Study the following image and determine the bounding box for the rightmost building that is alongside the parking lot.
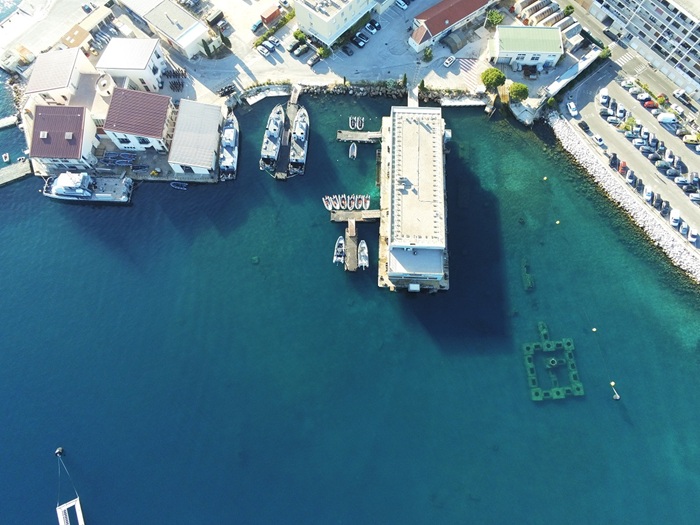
[579,0,700,116]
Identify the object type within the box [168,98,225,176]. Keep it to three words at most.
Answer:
shed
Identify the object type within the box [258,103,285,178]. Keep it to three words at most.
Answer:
boat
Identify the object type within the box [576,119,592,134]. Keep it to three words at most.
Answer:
car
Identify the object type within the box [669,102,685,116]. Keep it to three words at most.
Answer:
car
